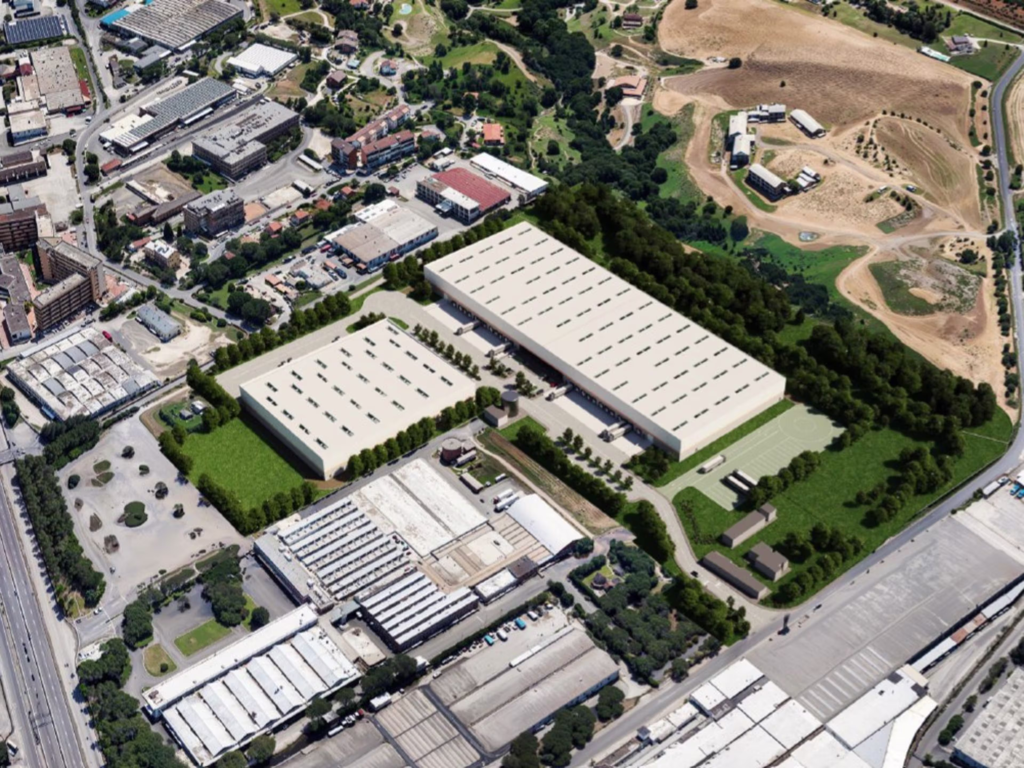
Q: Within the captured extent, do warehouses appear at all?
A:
Yes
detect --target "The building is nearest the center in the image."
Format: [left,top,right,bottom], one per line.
[485,404,509,426]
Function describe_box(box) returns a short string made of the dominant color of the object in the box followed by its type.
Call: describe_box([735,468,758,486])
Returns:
white vehicle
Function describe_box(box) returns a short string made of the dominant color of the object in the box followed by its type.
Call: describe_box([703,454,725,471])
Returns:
white vehicle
